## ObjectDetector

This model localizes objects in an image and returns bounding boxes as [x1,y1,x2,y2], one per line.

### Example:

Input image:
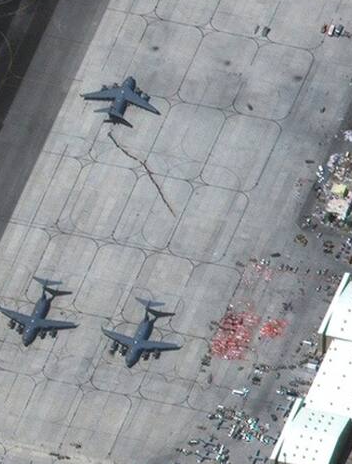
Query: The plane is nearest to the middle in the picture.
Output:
[103,295,181,368]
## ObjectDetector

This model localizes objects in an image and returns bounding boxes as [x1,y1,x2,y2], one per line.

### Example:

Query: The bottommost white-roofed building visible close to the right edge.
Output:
[271,401,348,464]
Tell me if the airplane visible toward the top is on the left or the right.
left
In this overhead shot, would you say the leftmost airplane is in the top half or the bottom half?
bottom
